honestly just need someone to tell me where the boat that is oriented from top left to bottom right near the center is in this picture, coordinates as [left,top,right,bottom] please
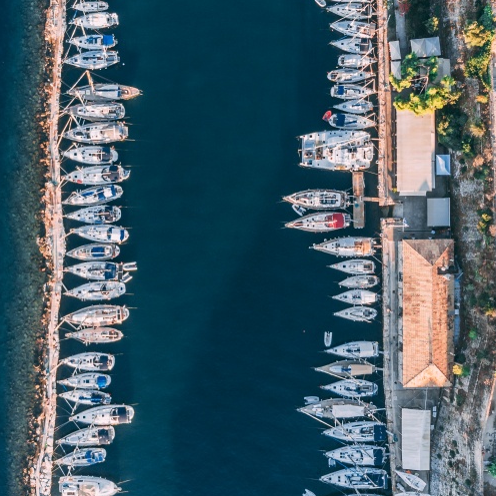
[292,204,306,218]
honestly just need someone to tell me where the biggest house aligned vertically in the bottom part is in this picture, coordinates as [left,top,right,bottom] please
[399,236,460,388]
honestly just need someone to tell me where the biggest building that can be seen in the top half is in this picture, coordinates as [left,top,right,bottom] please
[391,109,435,196]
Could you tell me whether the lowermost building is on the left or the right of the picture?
right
